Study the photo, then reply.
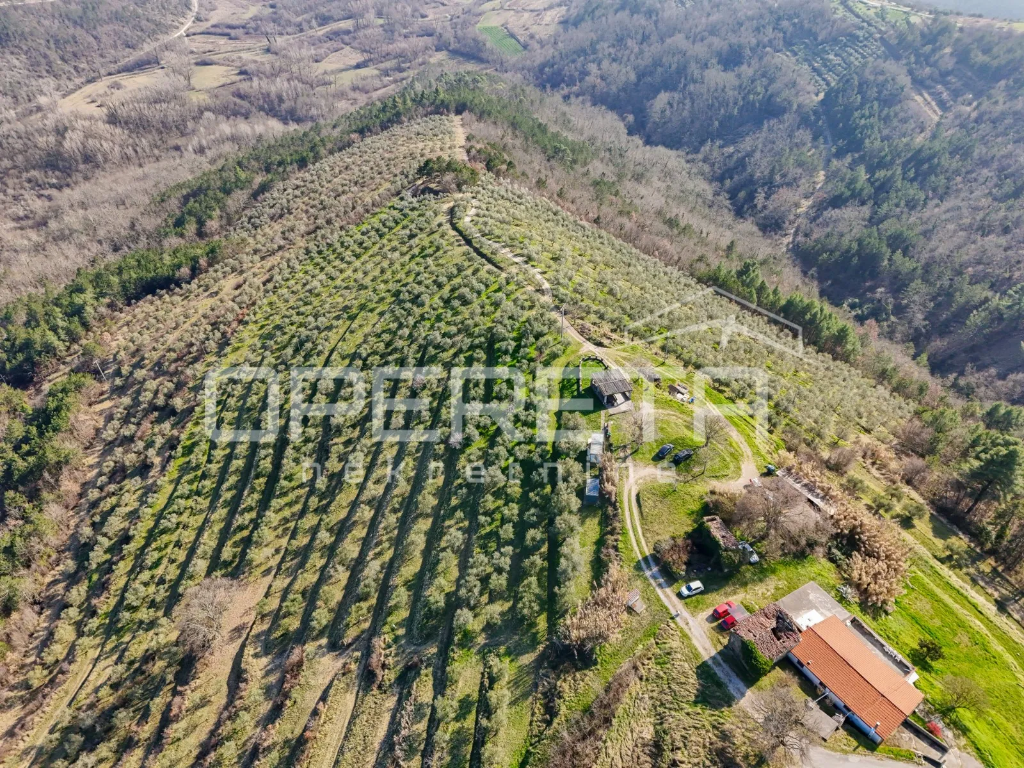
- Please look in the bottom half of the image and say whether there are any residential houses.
Yes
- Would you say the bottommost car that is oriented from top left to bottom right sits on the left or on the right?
right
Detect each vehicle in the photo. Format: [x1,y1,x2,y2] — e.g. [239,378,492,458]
[680,581,706,599]
[656,442,676,458]
[713,600,736,620]
[675,445,696,462]
[722,616,744,632]
[739,542,762,564]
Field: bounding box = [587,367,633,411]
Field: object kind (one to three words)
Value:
barn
